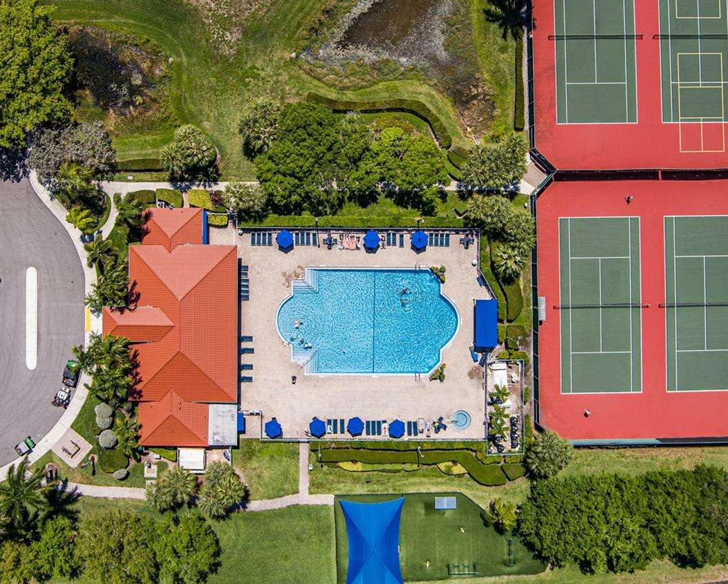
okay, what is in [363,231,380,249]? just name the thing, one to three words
umbrella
